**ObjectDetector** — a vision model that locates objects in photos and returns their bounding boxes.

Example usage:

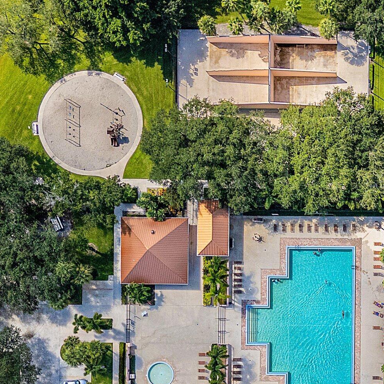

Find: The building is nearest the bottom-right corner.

[197,199,230,257]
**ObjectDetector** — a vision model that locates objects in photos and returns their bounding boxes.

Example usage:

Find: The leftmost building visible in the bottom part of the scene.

[120,216,190,285]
